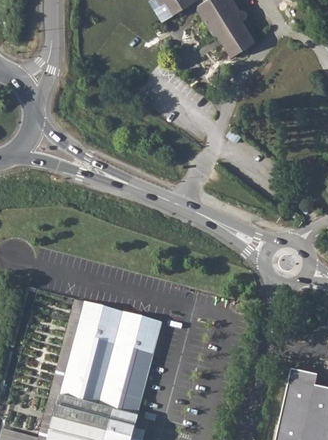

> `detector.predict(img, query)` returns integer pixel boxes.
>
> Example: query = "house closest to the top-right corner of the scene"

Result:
[196,0,256,56]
